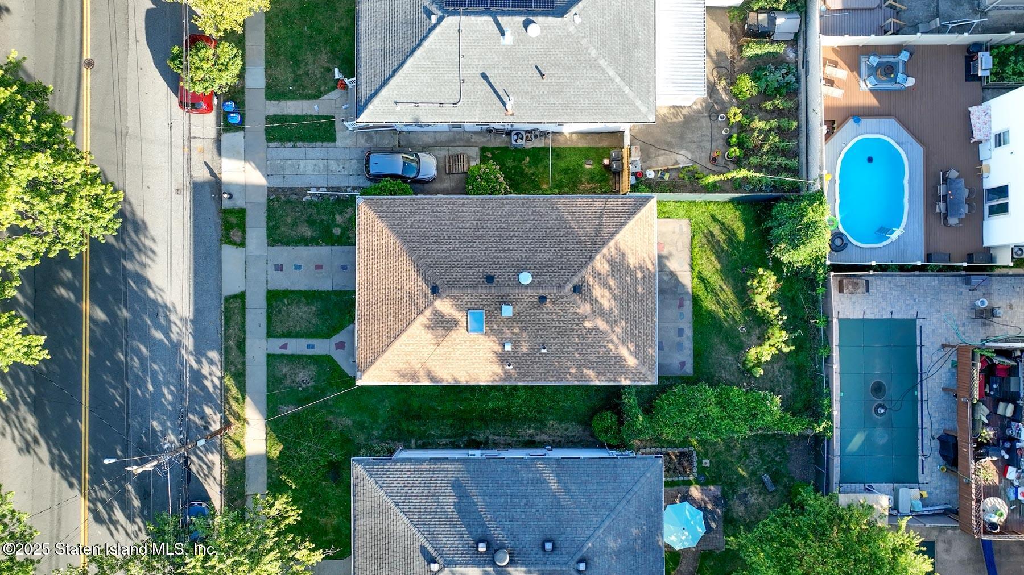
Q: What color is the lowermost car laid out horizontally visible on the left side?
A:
blue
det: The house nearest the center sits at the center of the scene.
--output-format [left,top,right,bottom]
[355,194,659,387]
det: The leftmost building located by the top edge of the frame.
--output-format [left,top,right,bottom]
[355,0,657,131]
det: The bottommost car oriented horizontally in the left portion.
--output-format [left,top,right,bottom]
[365,148,437,183]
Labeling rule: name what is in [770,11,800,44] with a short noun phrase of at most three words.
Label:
shed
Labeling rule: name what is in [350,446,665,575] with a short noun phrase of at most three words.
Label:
house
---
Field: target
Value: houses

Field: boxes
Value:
[983,88,1024,248]
[355,0,657,131]
[355,194,659,387]
[350,446,665,575]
